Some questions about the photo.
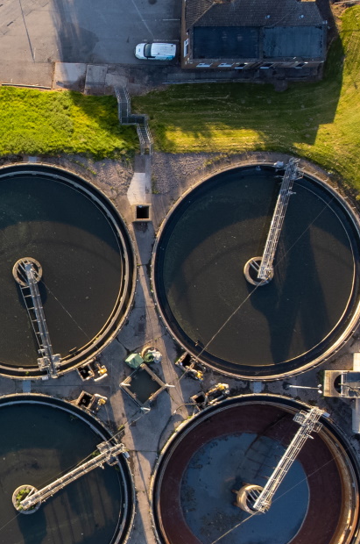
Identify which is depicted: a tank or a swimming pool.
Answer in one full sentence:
Visible in the photo is a tank.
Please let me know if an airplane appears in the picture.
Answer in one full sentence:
No, the picture doesn't show any airplane.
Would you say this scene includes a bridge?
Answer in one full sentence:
Yes, a bridge can be made out from above.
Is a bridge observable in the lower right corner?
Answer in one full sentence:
Yes, you'll find a bridge in the lower right corner.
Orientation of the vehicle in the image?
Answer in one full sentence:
The vehicle is oriented from side to side.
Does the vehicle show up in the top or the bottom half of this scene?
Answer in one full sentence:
It is in the top half that the vehicle appears.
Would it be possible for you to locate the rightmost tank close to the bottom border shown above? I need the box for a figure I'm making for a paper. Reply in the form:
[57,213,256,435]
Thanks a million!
[150,393,360,544]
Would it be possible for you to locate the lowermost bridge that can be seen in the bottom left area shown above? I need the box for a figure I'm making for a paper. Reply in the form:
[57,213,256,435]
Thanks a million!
[14,440,133,514]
